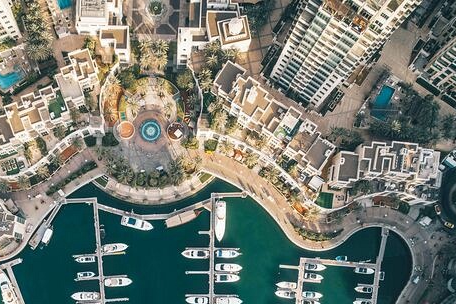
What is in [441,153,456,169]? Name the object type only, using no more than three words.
vehicle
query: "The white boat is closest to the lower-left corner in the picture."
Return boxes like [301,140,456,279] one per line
[0,270,16,304]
